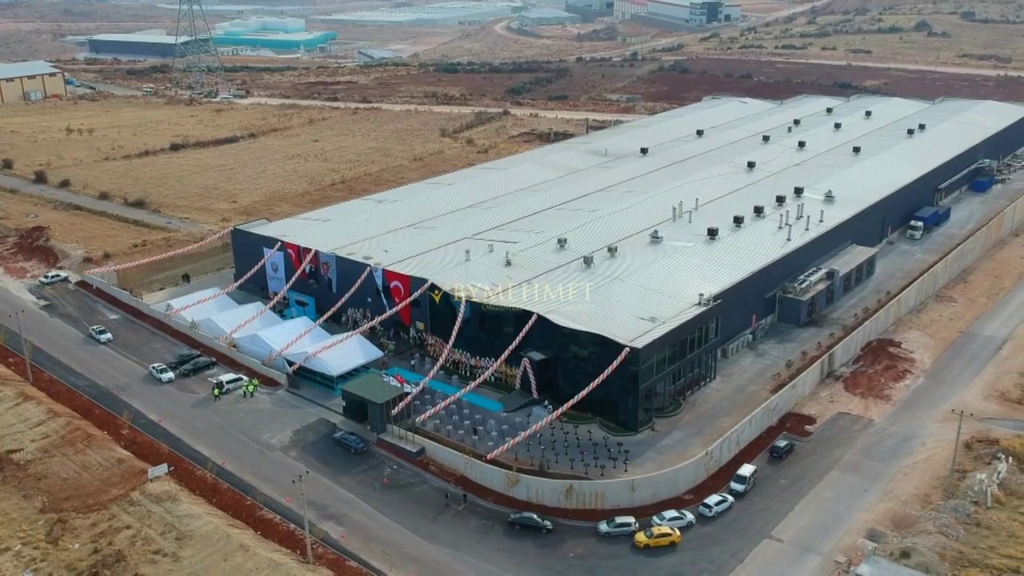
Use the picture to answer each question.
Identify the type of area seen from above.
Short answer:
industrial area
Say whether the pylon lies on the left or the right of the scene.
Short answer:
left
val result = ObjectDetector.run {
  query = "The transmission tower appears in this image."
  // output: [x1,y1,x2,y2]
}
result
[158,0,238,94]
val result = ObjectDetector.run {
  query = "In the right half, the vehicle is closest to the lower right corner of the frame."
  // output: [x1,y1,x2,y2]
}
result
[766,440,799,460]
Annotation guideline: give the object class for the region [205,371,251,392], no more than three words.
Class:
vehicle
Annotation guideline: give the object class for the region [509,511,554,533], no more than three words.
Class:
car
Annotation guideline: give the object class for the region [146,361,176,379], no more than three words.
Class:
car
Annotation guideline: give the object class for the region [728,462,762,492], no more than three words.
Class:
vehicle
